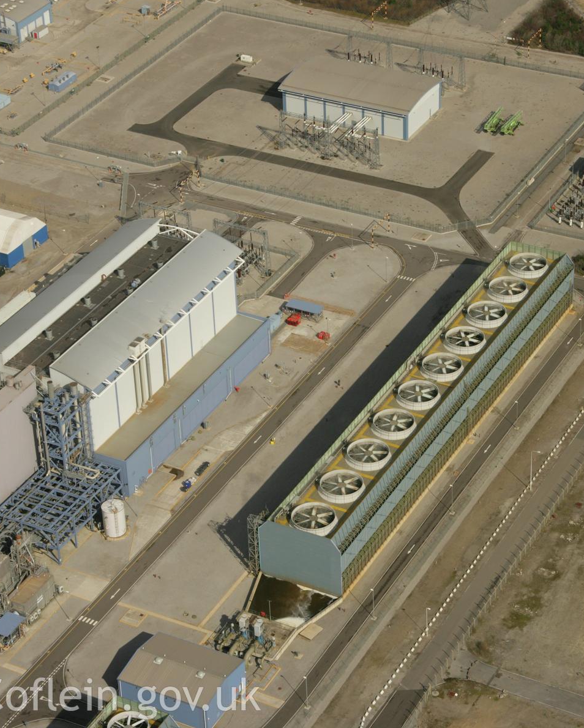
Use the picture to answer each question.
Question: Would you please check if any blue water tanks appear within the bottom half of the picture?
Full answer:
No, I see no blue water tank within the bottom half of the picture.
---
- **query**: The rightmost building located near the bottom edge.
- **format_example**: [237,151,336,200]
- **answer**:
[116,632,248,728]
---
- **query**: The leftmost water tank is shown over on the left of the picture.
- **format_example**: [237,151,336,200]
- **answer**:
[101,497,129,543]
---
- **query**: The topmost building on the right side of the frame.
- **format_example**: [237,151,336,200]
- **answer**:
[278,57,446,141]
